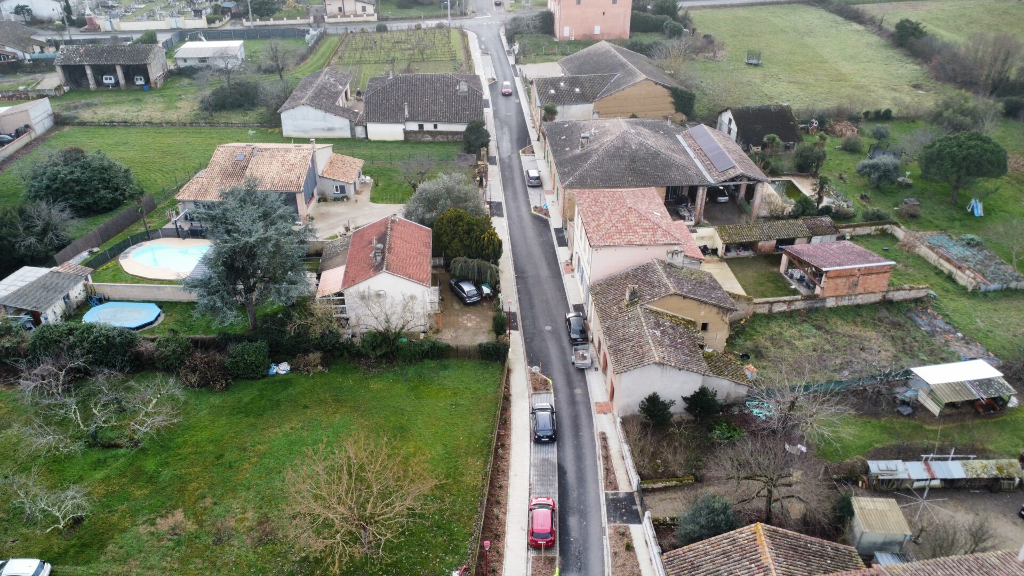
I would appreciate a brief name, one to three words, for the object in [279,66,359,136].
shed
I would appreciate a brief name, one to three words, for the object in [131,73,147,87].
vehicle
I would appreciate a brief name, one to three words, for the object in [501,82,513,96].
vehicle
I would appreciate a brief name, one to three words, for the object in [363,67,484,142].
house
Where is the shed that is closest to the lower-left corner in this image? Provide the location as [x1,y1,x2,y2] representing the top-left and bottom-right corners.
[0,261,95,325]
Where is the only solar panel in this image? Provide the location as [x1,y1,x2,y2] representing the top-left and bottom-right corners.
[690,125,735,171]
